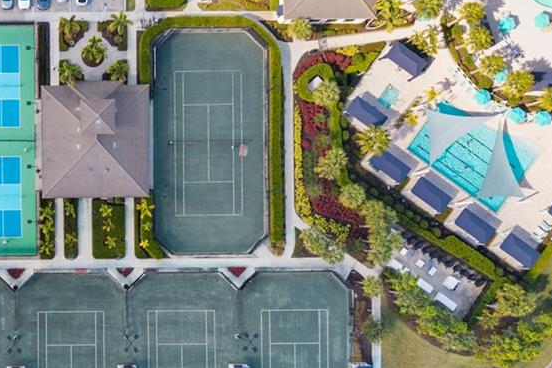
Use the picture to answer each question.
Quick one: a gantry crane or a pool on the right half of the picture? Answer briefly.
pool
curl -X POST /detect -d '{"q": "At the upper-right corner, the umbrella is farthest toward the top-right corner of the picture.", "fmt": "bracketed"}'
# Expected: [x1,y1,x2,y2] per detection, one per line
[530,12,549,29]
